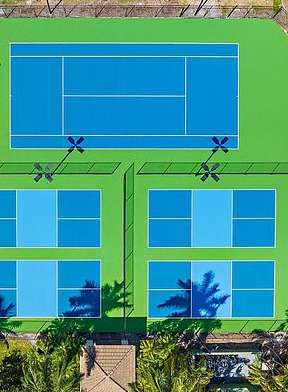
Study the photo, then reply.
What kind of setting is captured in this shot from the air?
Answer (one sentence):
The picture captures a sports ground.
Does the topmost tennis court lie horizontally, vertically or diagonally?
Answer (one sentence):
The topmost tennis court runs horizontally in the image.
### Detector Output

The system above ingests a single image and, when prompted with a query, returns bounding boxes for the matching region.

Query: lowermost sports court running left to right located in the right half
[148,260,276,318]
